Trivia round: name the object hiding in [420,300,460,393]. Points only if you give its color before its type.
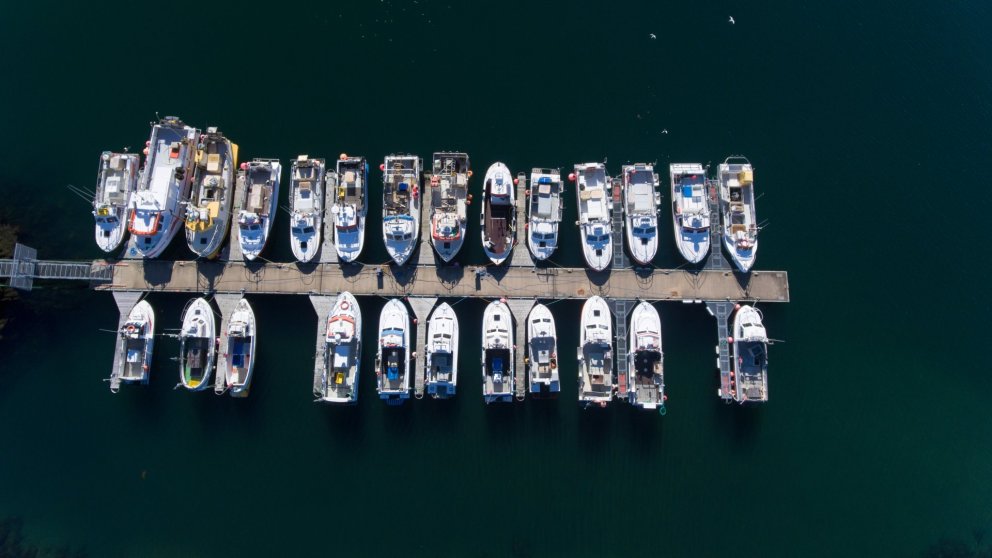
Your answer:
white boat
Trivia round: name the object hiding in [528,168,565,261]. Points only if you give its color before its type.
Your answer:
white boat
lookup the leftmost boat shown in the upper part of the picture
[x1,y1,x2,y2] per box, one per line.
[72,149,139,253]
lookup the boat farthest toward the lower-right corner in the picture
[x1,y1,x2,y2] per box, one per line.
[730,304,785,402]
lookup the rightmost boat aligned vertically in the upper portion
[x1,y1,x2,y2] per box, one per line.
[718,157,769,273]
